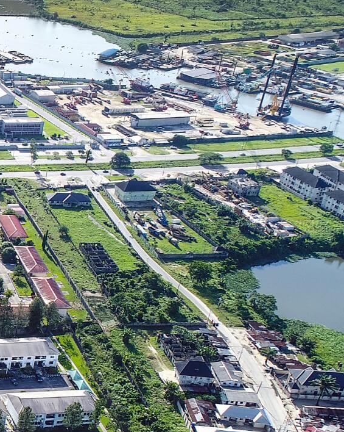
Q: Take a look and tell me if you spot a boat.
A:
Yes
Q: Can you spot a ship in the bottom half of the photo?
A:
No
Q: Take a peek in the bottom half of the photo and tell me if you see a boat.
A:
No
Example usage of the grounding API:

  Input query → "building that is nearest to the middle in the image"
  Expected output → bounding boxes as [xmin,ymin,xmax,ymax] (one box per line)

[115,183,157,201]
